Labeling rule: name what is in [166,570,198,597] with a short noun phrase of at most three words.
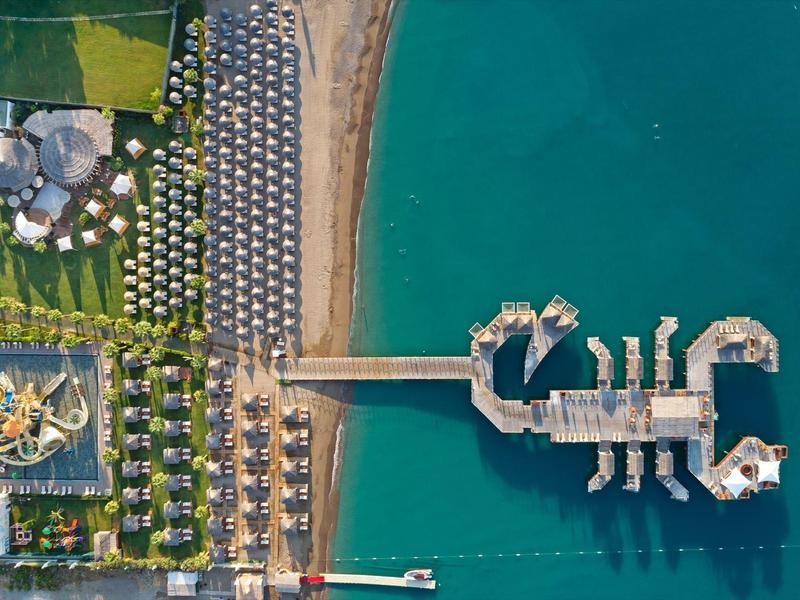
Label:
shed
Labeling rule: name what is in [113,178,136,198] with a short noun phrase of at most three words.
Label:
tent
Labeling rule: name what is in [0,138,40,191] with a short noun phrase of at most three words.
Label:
building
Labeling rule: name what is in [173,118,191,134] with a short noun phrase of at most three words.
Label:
gazebo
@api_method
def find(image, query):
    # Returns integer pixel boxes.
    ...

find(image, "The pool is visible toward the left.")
[0,343,112,495]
